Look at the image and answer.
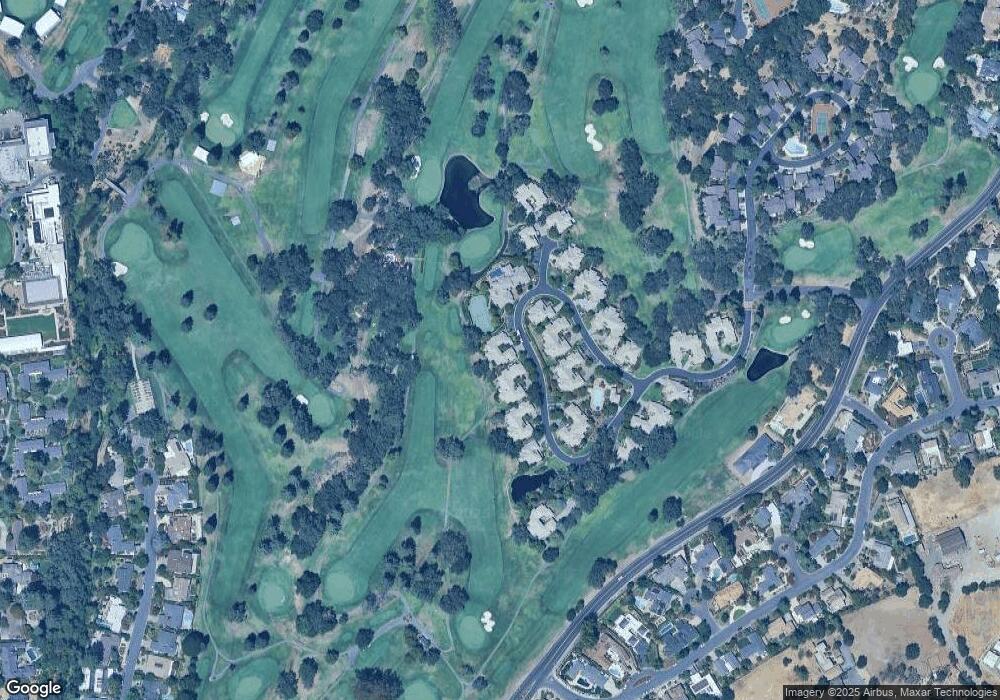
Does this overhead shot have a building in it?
Yes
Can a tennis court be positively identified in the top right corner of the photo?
Yes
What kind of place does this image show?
golf course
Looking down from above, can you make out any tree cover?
Yes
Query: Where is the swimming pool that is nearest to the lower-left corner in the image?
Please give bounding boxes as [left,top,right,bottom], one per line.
[25,647,40,663]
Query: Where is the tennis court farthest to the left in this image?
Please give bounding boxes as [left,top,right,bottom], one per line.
[470,295,494,333]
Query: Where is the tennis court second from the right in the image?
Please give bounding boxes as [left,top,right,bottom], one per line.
[746,0,794,27]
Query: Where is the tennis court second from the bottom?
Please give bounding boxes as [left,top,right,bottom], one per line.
[812,103,837,137]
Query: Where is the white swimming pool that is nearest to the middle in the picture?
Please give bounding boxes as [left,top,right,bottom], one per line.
[591,378,605,412]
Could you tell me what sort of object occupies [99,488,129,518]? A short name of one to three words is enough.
house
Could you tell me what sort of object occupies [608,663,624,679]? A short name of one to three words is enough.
swimming pool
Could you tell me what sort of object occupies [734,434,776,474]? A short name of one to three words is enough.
building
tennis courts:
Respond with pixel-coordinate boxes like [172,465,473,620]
[746,0,794,27]
[812,103,837,137]
[470,295,494,333]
